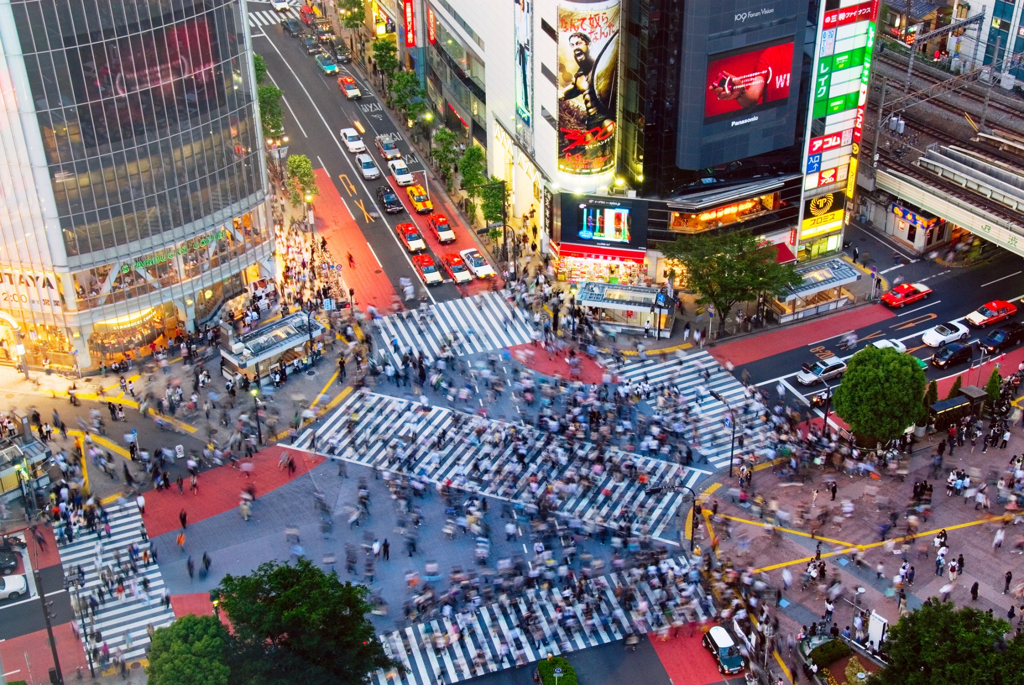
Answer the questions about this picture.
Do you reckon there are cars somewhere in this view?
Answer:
Yes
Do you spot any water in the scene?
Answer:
No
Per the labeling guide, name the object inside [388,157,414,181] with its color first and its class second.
white car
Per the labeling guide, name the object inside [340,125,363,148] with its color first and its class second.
white car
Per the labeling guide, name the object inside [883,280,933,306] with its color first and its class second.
red car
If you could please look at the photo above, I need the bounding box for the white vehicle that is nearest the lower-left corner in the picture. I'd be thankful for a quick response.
[0,568,37,595]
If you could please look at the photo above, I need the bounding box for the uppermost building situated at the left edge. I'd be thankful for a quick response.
[0,0,276,373]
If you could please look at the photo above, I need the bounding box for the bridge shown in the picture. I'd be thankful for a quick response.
[871,40,1024,229]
